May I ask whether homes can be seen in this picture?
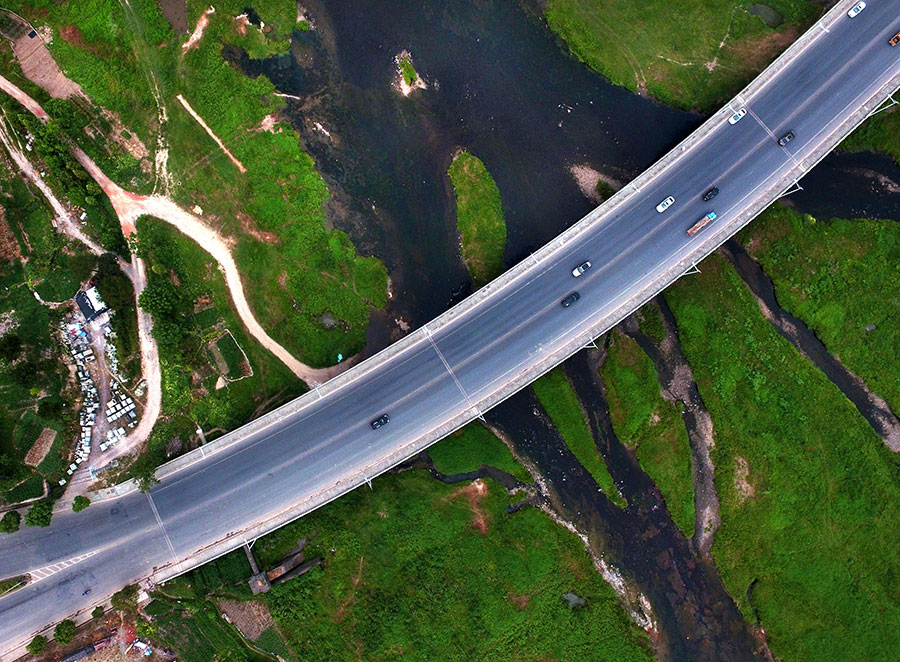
Yes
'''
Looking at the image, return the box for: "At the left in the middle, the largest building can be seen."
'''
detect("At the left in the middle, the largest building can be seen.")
[70,286,104,322]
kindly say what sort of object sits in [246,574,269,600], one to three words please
building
